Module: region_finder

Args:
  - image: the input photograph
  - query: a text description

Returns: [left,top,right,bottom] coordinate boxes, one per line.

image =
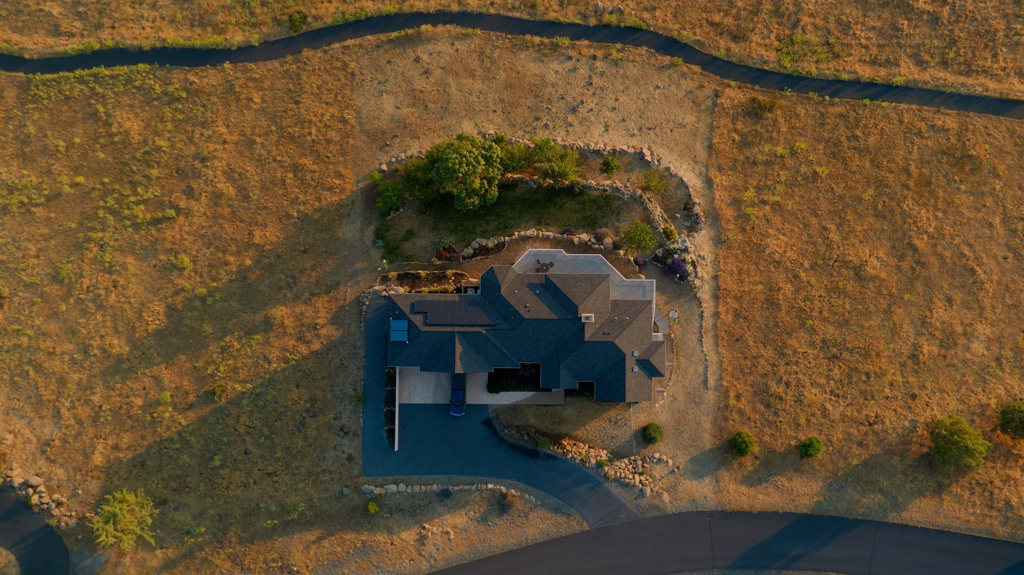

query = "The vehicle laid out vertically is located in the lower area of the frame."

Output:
[448,374,467,418]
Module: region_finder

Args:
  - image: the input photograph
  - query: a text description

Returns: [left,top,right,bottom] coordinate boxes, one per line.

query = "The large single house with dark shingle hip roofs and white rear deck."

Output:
[387,264,666,404]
